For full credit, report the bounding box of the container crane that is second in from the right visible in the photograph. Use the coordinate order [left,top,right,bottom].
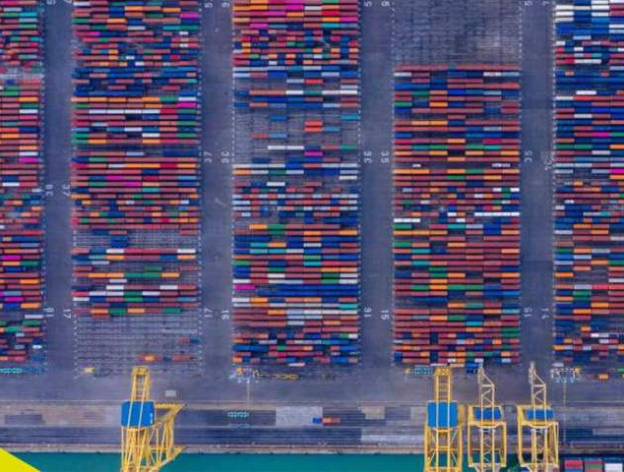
[463,361,507,472]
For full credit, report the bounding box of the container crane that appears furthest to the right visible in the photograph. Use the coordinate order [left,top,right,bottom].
[509,361,557,472]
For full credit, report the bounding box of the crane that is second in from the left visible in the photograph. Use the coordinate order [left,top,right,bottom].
[422,365,464,472]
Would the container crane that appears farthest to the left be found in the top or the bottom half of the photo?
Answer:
bottom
